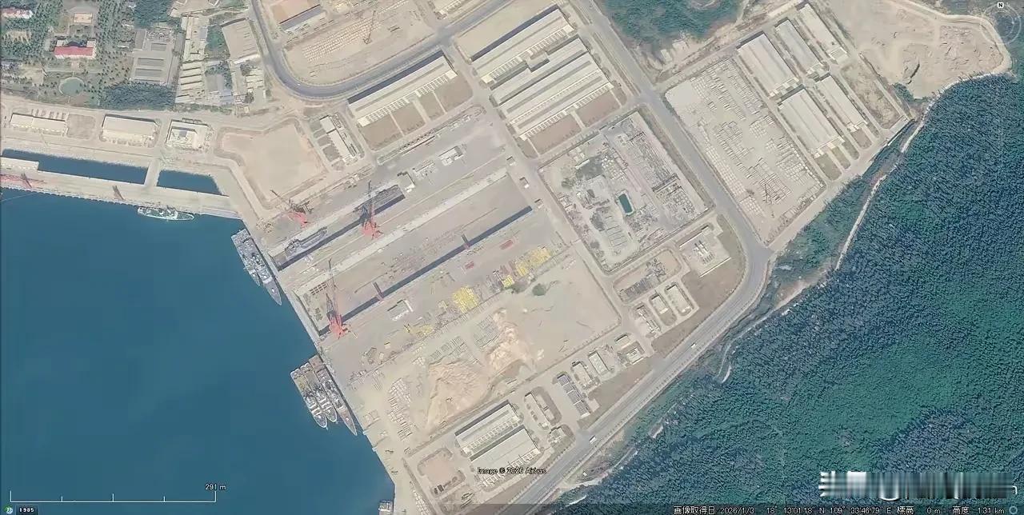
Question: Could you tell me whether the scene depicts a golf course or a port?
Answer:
port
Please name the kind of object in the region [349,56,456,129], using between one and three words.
building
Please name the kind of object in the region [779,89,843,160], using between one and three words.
building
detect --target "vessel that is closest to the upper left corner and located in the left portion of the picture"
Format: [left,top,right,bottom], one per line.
[137,207,196,220]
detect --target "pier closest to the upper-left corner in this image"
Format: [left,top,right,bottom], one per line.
[0,157,240,218]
